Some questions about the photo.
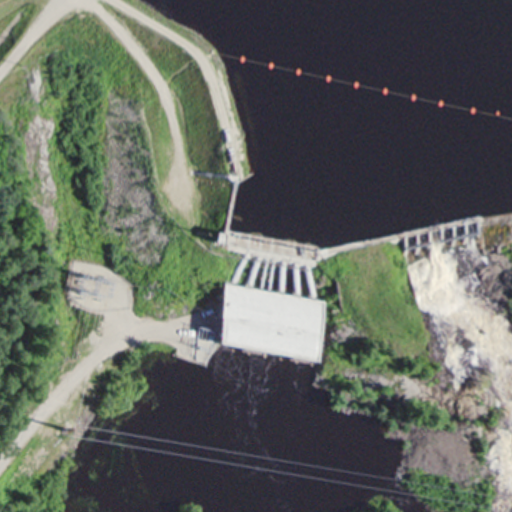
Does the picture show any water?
Yes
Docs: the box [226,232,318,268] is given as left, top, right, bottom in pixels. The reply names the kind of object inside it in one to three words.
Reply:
dam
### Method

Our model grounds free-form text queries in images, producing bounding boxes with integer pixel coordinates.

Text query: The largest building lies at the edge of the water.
[221,286,326,362]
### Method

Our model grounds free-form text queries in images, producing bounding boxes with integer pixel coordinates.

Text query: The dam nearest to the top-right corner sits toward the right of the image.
[401,218,482,252]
